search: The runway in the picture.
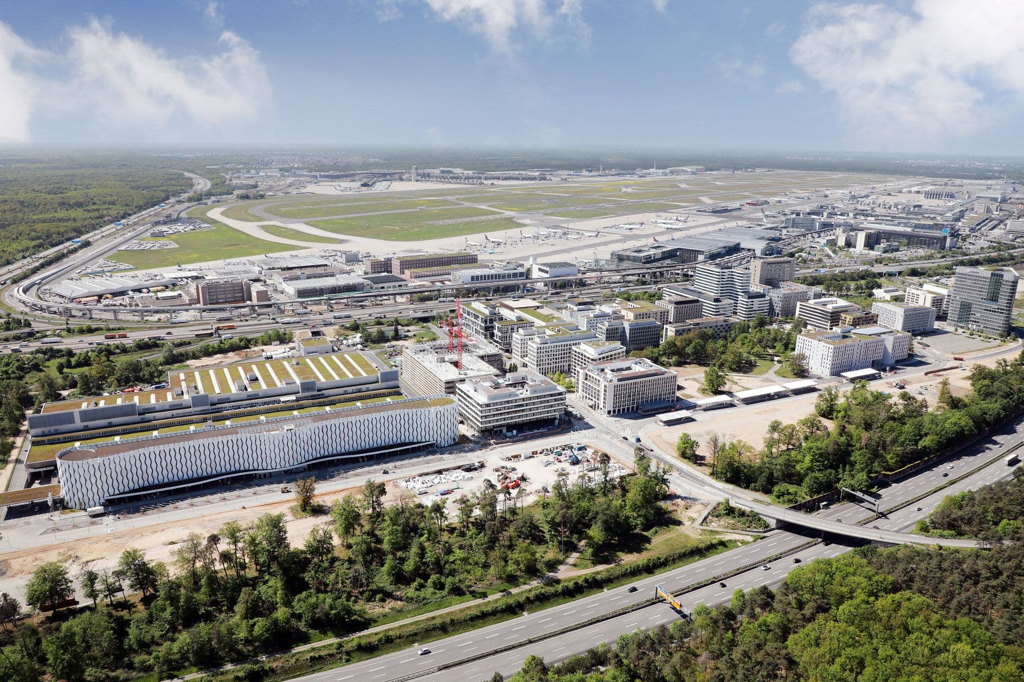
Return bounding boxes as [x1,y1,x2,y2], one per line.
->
[240,172,878,226]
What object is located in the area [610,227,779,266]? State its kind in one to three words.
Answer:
building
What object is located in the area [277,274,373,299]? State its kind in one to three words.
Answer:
building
